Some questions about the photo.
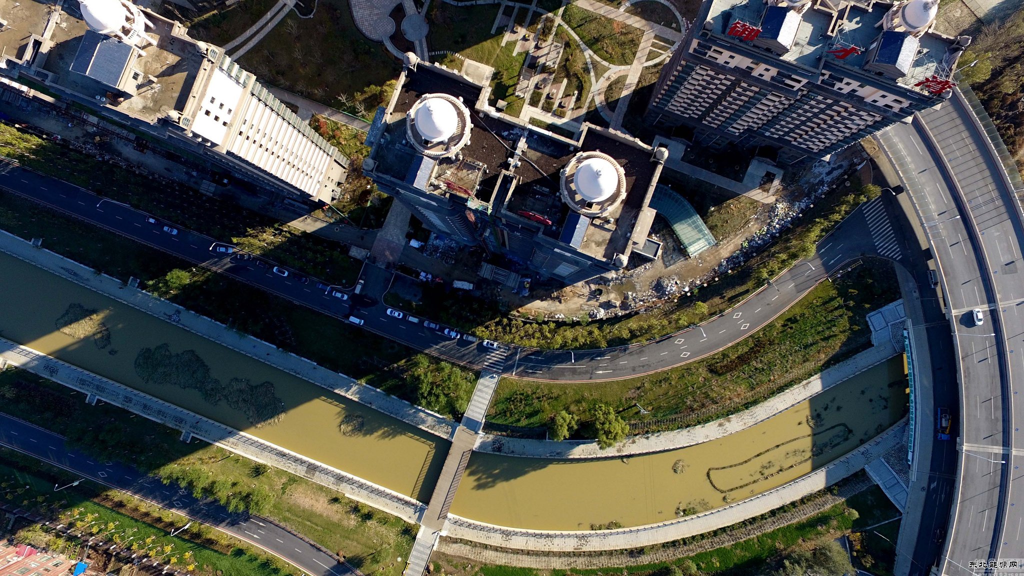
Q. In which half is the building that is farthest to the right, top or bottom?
top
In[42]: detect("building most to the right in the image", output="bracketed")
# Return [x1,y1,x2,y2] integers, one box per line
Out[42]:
[629,0,976,184]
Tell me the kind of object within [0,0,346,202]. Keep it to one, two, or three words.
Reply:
building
